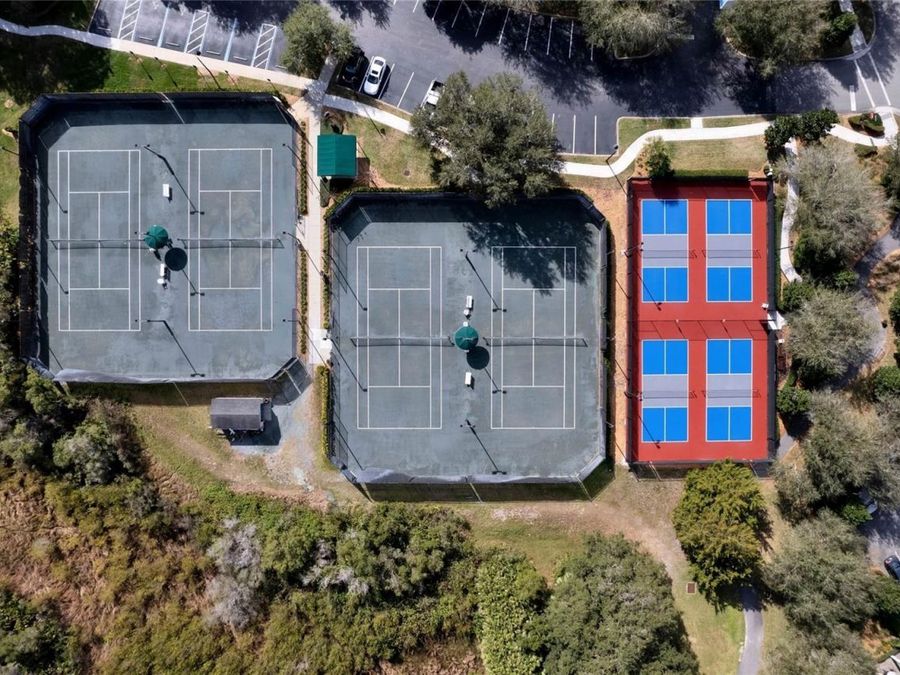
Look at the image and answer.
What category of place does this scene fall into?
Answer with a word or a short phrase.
sports ground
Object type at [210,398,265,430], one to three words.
shed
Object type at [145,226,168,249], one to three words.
umbrella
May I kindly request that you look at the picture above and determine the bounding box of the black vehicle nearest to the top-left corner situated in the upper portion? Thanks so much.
[338,48,363,89]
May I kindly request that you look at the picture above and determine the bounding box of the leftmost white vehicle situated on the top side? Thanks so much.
[364,54,388,95]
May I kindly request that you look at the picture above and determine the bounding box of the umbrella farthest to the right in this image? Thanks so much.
[455,327,477,350]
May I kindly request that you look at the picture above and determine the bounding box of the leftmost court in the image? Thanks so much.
[33,100,165,378]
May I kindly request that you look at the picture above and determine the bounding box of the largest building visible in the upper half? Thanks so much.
[317,133,359,181]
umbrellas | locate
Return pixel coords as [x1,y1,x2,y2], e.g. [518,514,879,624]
[455,327,477,350]
[145,226,168,249]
